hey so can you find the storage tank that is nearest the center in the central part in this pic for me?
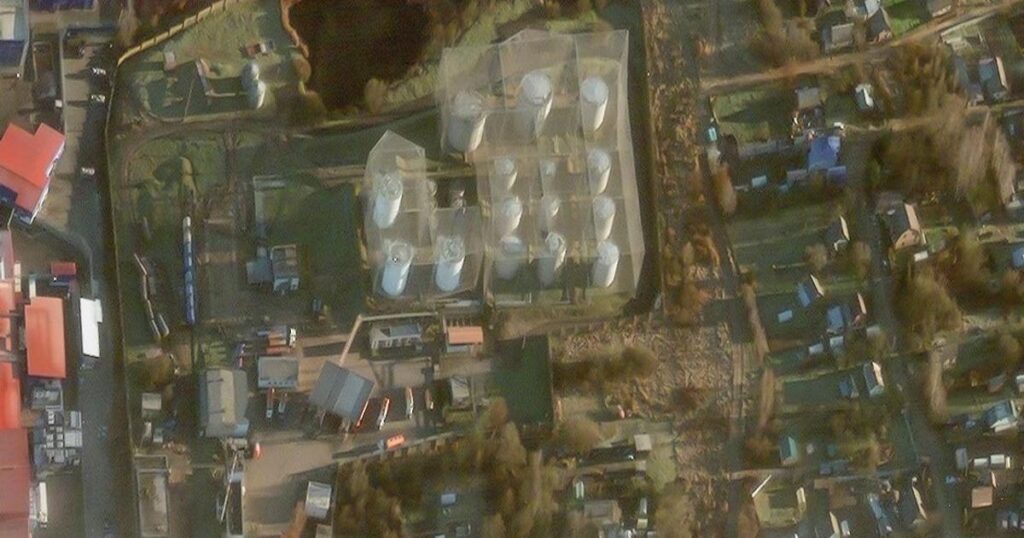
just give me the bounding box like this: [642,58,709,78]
[494,229,524,283]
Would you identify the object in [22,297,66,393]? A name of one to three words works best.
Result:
building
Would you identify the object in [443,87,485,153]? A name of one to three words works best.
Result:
storage tank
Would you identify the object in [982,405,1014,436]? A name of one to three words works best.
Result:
house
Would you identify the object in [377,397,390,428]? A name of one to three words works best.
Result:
vehicle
